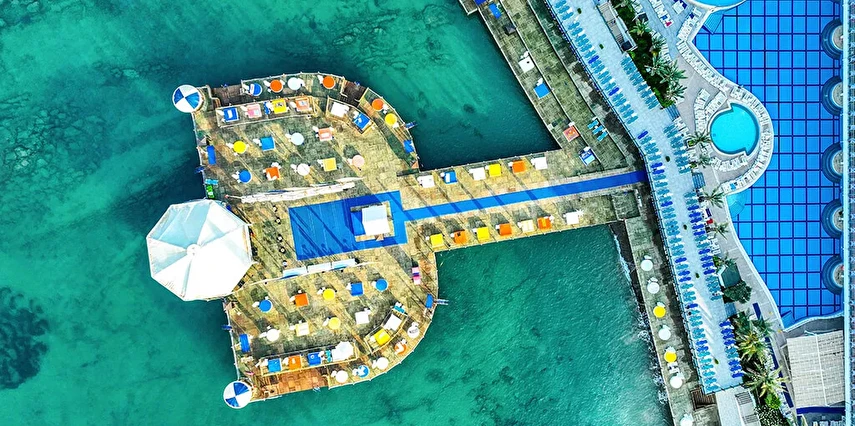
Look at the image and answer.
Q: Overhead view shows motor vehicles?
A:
No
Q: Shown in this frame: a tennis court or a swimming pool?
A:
swimming pool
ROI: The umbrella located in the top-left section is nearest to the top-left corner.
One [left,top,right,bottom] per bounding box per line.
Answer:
[172,84,203,114]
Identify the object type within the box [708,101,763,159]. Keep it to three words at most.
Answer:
swimming pool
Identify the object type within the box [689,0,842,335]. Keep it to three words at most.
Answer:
swimming pool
